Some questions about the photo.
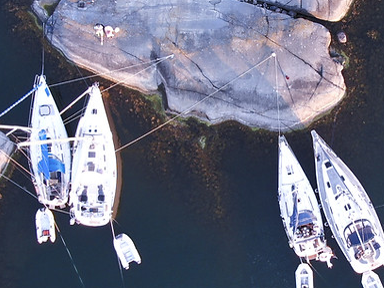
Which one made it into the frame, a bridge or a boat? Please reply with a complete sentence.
It is a boat that can be seen here.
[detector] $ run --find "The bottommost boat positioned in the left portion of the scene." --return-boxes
[115,233,140,270]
